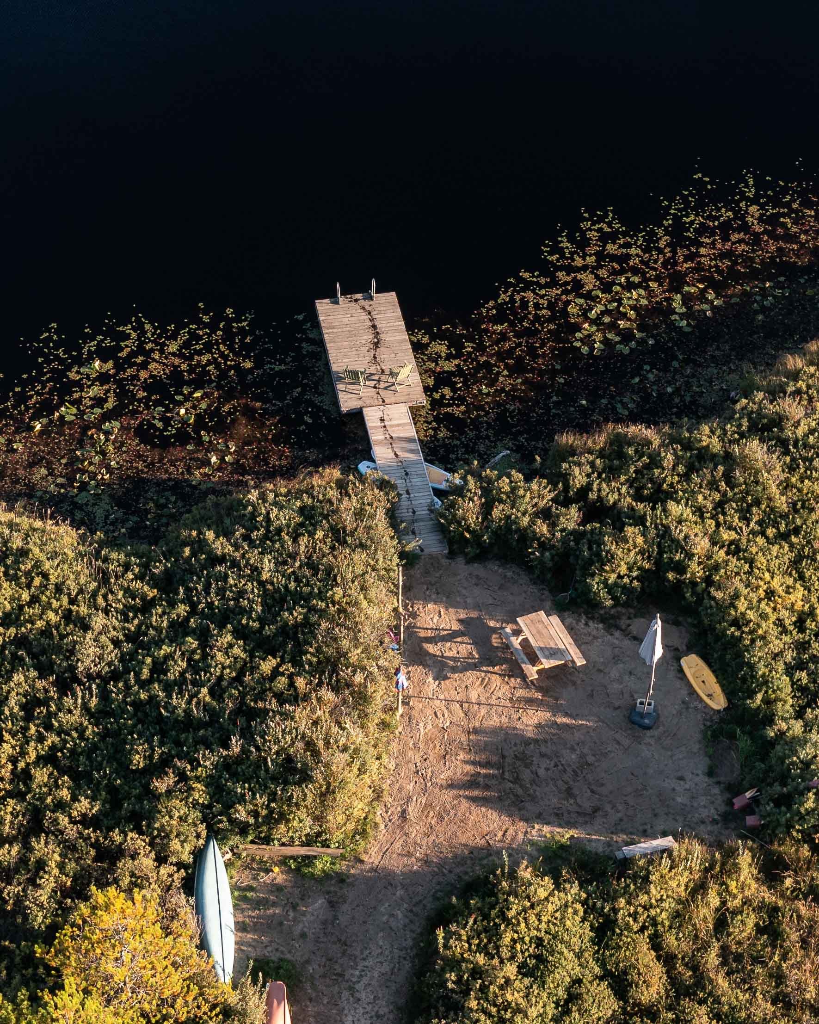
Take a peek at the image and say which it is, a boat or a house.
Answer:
boat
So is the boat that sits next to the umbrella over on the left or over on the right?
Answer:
right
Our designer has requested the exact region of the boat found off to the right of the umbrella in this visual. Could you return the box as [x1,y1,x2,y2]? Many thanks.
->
[678,645,729,709]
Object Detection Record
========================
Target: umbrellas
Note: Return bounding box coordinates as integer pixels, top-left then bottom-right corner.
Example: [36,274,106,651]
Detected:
[634,612,661,708]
